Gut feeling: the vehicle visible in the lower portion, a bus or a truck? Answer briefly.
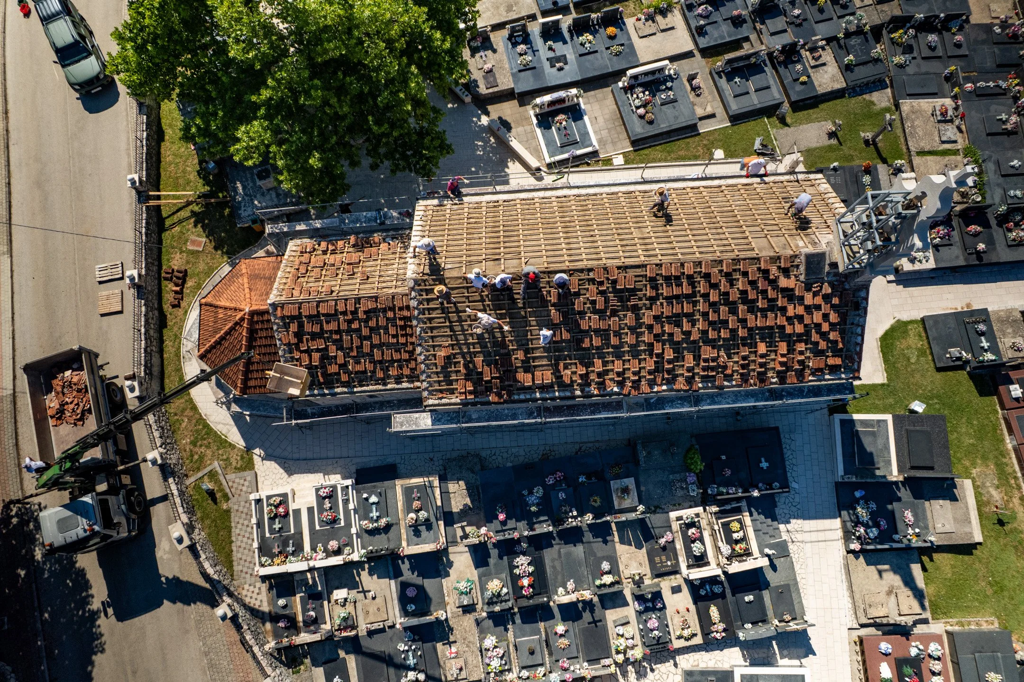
truck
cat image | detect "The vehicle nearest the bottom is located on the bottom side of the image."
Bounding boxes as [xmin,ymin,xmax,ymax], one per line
[9,347,279,580]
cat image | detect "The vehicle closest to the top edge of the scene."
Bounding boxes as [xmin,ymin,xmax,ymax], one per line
[47,0,114,98]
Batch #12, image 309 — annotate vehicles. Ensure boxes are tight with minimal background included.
[47,0,114,98]
[9,347,279,580]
